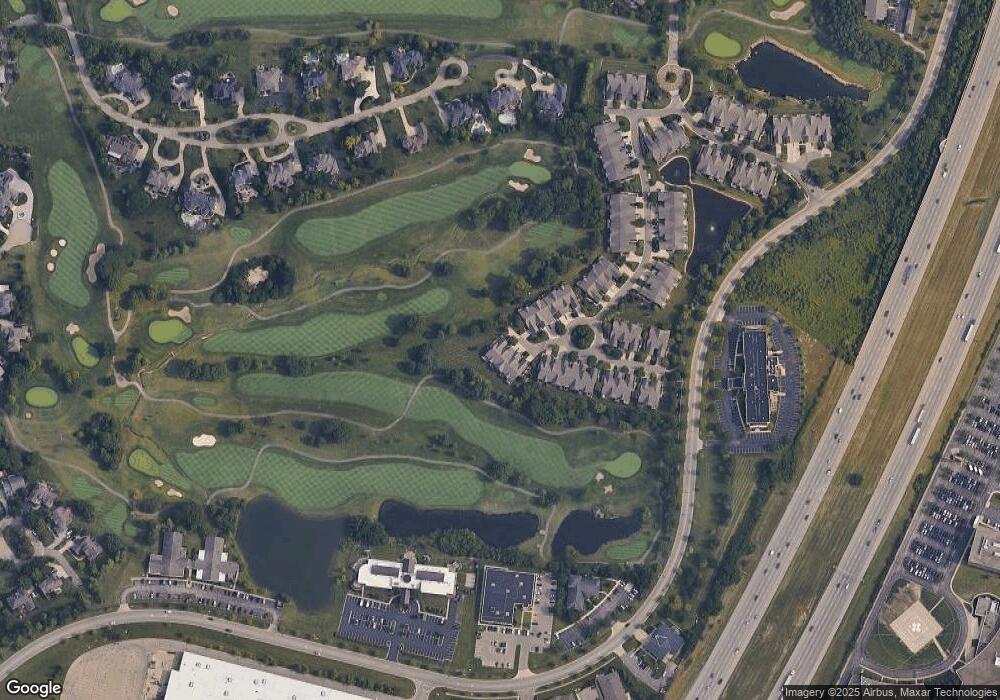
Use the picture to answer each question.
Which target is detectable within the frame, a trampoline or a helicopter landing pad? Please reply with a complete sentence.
It is a helicopter landing pad that can be seen here.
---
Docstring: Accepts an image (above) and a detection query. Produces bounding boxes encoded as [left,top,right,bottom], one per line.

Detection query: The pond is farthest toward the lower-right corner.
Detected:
[552,511,643,558]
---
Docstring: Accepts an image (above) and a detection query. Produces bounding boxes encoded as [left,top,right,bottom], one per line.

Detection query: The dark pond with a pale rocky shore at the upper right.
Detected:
[736,43,868,102]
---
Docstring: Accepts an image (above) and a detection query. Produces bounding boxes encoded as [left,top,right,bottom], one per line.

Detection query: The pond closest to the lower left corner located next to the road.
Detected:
[238,494,347,612]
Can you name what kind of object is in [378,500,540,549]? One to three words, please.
pond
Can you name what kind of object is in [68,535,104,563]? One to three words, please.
house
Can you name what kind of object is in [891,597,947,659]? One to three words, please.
helipad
